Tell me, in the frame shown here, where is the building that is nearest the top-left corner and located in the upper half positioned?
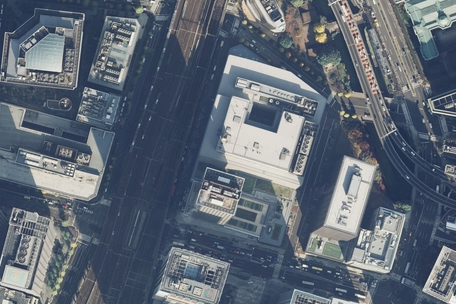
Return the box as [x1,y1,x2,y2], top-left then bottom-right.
[0,8,86,98]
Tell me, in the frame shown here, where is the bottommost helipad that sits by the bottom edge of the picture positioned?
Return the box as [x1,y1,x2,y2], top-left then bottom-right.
[203,286,217,300]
